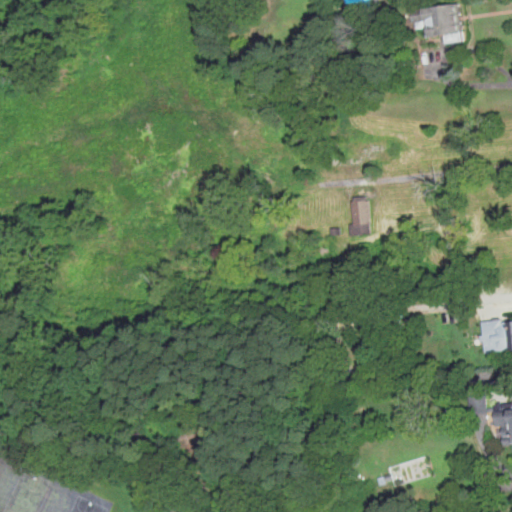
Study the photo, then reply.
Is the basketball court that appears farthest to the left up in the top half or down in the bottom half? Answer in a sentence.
The basketball court that appears farthest to the left is in the bottom half of the image.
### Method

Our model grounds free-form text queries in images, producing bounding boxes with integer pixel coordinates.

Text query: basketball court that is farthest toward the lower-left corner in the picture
[0,458,112,512]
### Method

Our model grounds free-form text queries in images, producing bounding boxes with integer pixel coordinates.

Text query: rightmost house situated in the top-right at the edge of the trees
[410,2,466,45]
